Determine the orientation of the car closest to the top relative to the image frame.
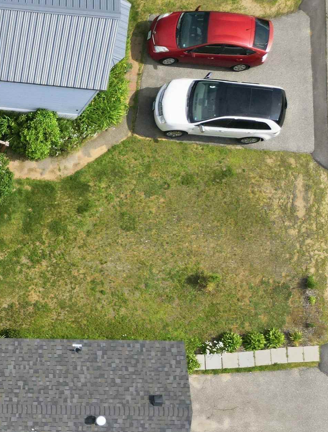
from side to side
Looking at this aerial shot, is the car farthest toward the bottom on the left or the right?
right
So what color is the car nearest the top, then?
red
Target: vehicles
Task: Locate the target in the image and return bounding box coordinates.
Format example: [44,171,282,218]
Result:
[143,1,276,73]
[149,68,288,144]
